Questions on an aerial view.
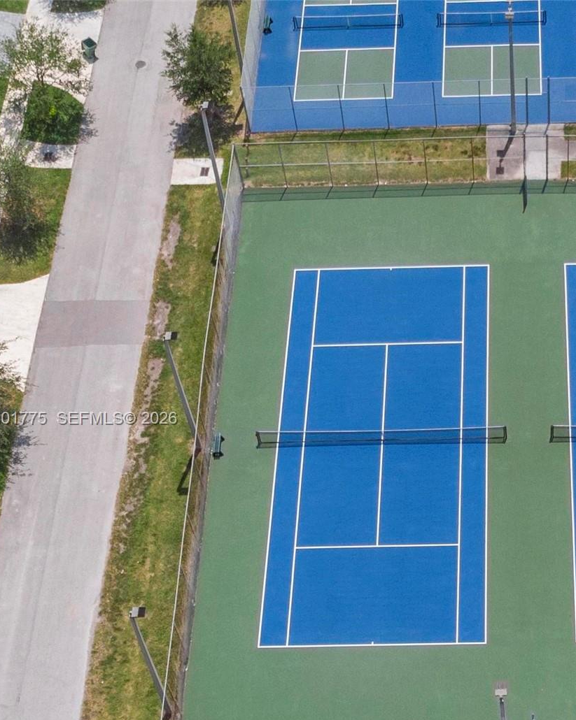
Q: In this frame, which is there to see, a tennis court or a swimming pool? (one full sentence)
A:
I can see a tennis court in this picture.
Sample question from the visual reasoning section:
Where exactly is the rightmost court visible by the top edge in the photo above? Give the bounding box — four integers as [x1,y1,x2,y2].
[443,0,542,96]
